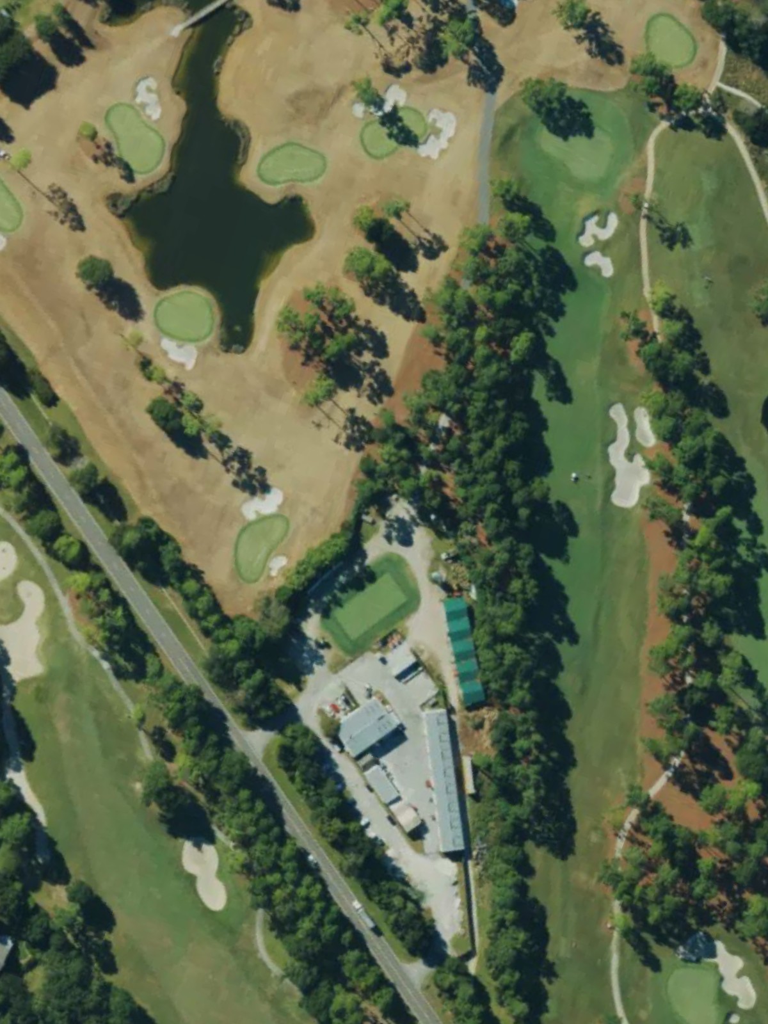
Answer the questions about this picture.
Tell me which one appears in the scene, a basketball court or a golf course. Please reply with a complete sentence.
Looking from above, you can make out a golf course.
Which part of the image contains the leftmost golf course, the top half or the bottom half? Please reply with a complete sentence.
The bottom half of the photo is where the leftmost golf course is.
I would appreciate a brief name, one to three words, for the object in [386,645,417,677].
shed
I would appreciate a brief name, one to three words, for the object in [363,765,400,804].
shed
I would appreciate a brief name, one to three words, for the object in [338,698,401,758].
building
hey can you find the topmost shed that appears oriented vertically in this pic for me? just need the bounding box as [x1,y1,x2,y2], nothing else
[442,598,485,705]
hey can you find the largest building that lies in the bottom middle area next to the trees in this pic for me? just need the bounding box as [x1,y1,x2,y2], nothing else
[422,710,464,852]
